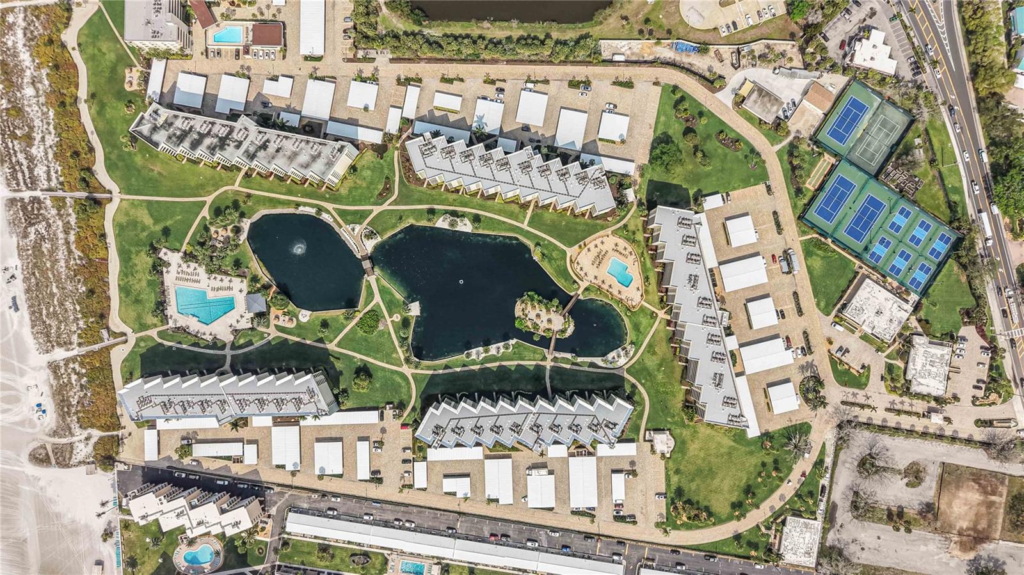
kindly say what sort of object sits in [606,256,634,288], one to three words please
swimming pool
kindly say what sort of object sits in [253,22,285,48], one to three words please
building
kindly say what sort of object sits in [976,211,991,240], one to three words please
vehicle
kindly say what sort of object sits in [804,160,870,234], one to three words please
tennis court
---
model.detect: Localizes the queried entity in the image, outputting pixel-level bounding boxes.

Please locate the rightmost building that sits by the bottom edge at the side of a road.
[777,515,821,567]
